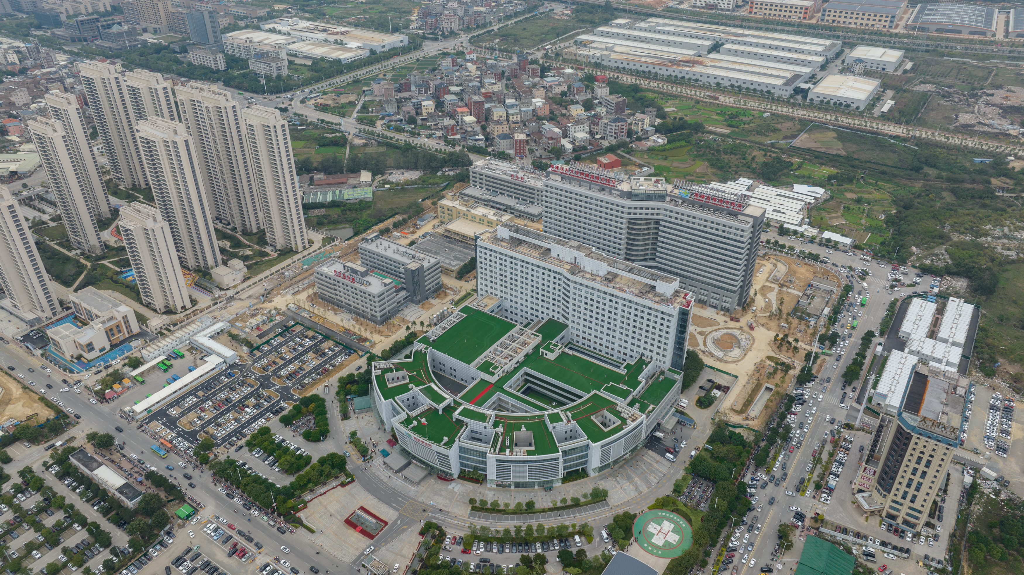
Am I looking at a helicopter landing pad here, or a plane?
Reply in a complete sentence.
There is a helicopter landing pad in the scene.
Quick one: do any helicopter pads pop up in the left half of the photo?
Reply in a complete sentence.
No, there's no helicopter pad to be seen in the left half of the photo.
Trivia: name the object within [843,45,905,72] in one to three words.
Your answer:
building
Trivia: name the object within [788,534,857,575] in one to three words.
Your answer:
shed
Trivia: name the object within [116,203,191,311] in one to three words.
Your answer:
building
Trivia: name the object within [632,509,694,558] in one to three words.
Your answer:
helipad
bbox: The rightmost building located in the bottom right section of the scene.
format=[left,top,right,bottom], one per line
[871,365,969,530]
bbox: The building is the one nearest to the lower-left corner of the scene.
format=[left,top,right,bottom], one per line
[69,449,142,509]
